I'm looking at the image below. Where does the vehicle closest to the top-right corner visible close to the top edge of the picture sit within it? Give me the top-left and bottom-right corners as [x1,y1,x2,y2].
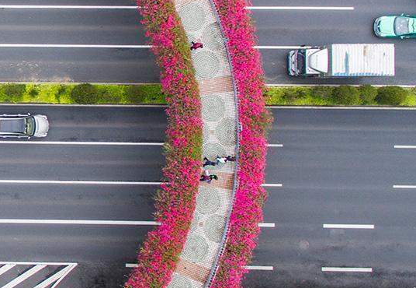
[368,13,416,40]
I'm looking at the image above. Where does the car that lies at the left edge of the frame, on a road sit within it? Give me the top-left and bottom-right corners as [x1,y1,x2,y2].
[0,112,47,139]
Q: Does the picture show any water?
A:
No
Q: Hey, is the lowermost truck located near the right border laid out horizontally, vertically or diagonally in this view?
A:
horizontally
